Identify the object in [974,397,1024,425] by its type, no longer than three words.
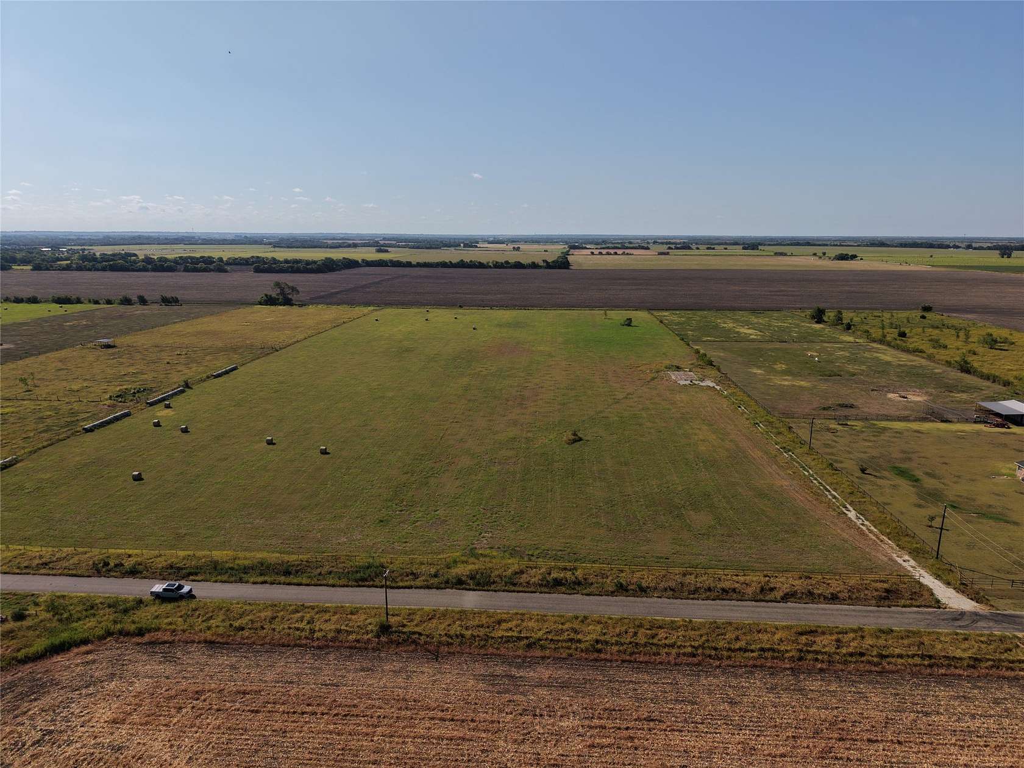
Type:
barn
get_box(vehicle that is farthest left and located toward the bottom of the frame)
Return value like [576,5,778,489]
[147,580,191,598]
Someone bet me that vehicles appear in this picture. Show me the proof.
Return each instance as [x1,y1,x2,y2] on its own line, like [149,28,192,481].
[995,420,1016,428]
[147,580,191,598]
